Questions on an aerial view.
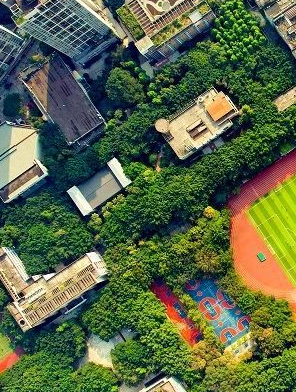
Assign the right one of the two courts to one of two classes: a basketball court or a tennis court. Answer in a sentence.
From above, the right one of the two courts can be identified as a basketball court.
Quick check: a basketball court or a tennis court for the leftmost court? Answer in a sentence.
Looking closely, the leftmost court is a basketball court.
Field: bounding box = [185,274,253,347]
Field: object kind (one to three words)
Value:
basketball court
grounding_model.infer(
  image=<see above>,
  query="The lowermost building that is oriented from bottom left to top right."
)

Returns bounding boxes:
[7,255,110,332]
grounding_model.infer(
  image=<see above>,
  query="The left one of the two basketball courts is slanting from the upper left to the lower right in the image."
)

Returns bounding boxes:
[149,277,204,347]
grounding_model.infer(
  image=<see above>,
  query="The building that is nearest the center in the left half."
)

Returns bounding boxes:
[66,160,130,216]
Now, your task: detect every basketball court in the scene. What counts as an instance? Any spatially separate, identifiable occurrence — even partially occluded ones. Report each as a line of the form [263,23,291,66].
[149,277,204,347]
[185,274,253,347]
